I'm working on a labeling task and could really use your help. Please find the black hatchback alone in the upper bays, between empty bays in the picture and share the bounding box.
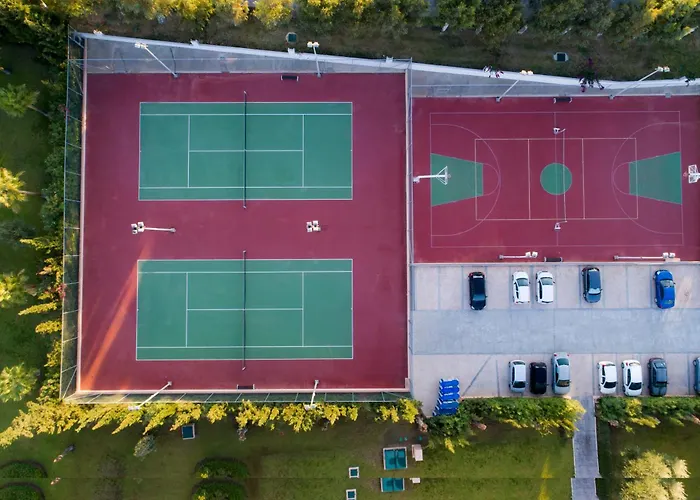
[468,272,487,310]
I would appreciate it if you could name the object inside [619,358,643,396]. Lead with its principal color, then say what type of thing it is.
white car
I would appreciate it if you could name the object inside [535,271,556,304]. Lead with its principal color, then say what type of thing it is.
white car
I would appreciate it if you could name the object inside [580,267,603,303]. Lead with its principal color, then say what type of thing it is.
blue car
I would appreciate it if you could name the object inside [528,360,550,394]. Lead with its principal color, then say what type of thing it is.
black car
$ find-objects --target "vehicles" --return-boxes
[690,356,700,393]
[508,359,528,393]
[619,358,643,396]
[550,351,572,394]
[468,272,487,310]
[645,357,669,395]
[595,360,617,393]
[535,271,556,304]
[511,272,530,304]
[580,267,603,303]
[651,270,675,310]
[528,360,550,394]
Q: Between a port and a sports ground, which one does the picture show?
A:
sports ground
